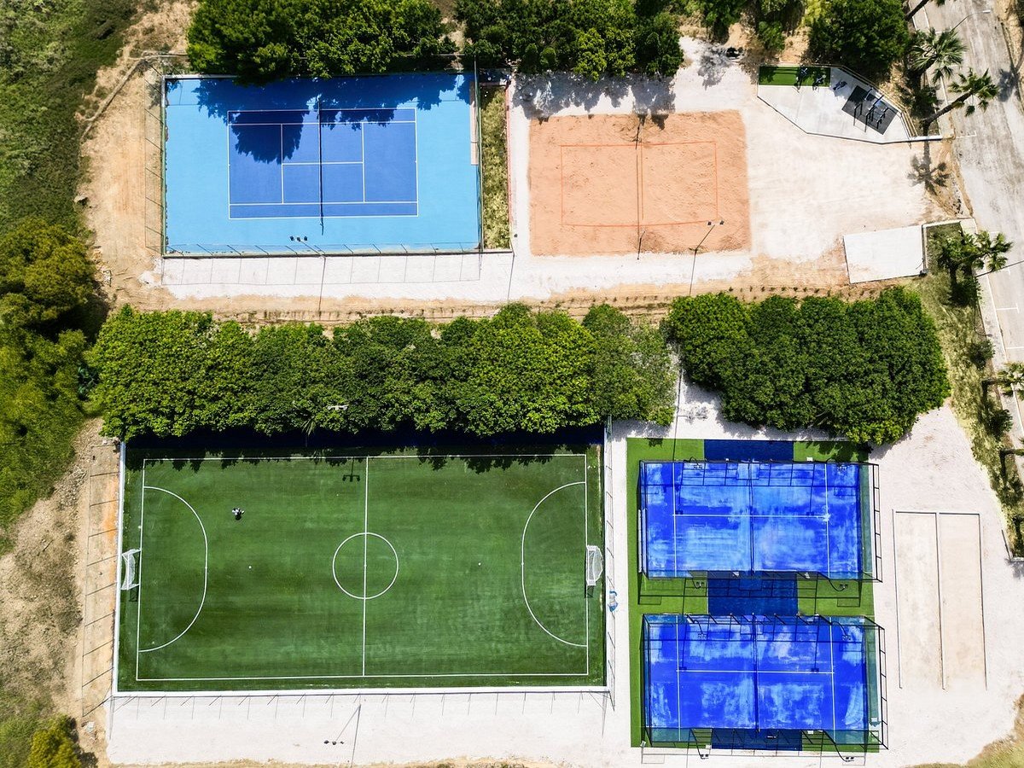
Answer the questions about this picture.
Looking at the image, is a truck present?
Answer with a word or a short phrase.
No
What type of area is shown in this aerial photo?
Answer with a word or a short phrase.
sports ground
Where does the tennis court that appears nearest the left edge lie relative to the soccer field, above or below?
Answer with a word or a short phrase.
above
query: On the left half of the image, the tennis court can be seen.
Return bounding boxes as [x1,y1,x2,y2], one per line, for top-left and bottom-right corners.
[165,72,479,254]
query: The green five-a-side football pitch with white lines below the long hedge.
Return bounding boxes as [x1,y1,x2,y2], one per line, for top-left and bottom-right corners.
[116,418,606,692]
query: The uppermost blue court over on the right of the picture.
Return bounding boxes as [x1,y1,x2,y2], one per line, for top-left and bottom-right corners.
[640,460,883,583]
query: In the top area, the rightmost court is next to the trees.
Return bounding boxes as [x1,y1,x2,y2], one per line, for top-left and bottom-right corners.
[530,110,750,255]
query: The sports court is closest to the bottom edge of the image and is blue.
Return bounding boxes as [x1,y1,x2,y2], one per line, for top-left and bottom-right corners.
[643,614,890,750]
